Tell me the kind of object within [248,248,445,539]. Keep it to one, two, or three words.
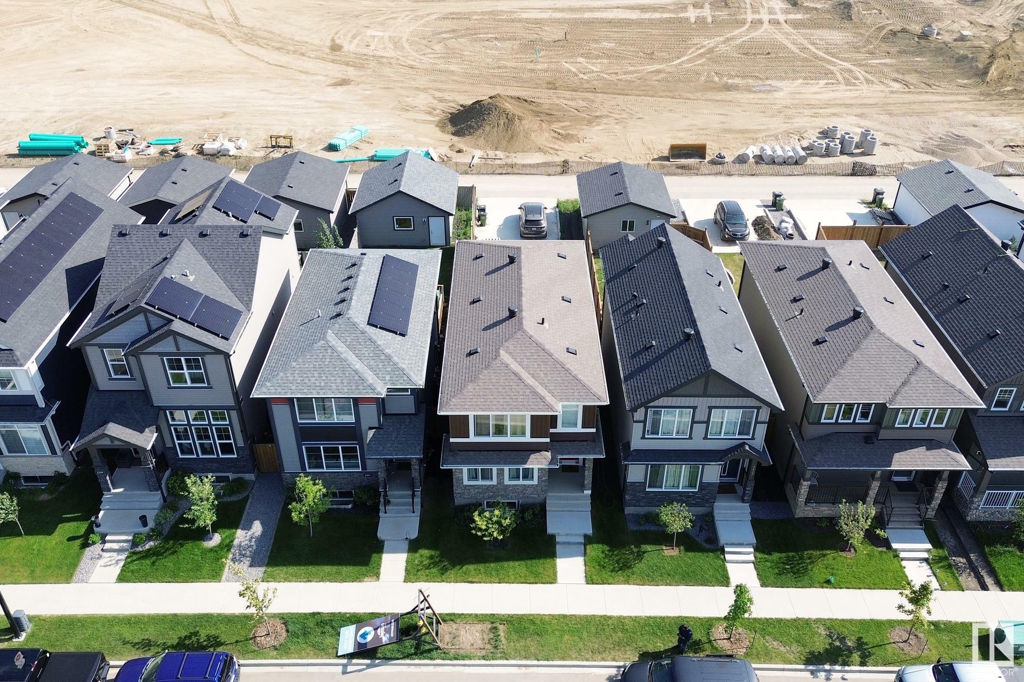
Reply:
house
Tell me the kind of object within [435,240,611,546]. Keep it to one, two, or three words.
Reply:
house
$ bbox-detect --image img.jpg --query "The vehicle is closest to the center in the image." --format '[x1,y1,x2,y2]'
[518,203,549,236]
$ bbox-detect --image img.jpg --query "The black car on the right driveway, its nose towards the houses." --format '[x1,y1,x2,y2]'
[710,197,751,238]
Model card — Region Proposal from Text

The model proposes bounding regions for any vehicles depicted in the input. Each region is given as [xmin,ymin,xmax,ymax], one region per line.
[891,659,1024,682]
[619,658,760,682]
[710,197,751,238]
[0,646,120,682]
[518,203,549,236]
[113,652,243,682]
